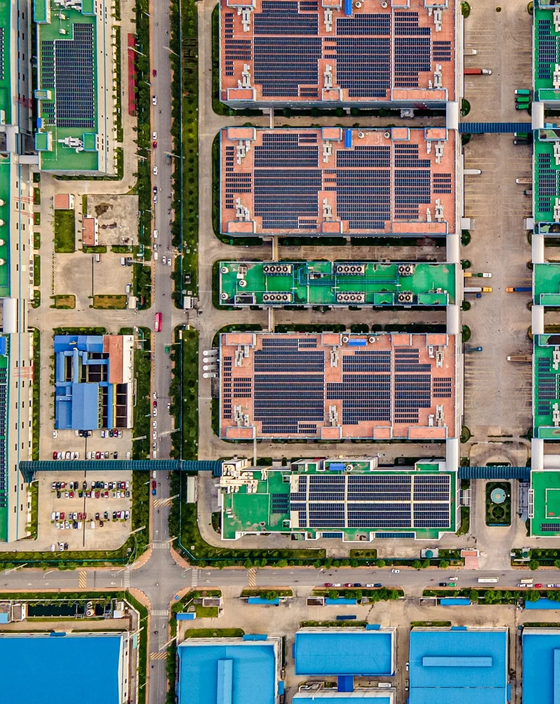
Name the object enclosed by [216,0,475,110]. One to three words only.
building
